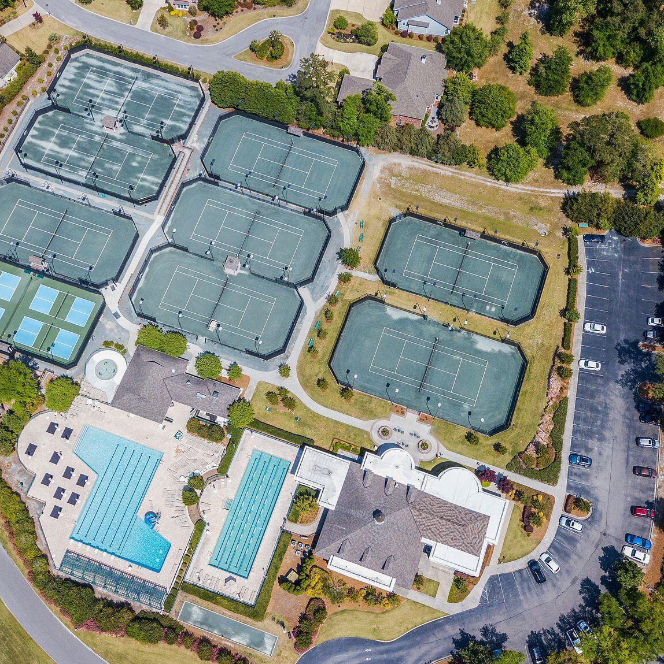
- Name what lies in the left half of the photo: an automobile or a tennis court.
tennis court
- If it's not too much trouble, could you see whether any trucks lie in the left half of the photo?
No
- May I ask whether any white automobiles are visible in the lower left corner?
No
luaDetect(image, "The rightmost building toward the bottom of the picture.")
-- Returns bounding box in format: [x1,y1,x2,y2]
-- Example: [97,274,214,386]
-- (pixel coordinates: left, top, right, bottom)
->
[294,445,509,593]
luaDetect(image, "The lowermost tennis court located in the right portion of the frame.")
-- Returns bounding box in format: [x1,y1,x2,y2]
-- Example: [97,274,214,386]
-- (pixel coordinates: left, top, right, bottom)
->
[330,295,531,436]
